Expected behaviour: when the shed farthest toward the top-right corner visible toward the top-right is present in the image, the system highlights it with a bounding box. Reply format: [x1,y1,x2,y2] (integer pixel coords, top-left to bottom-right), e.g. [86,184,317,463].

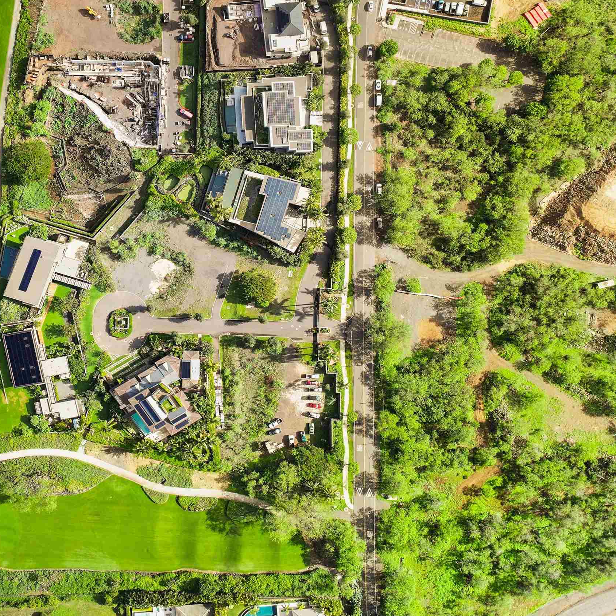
[523,3,550,27]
